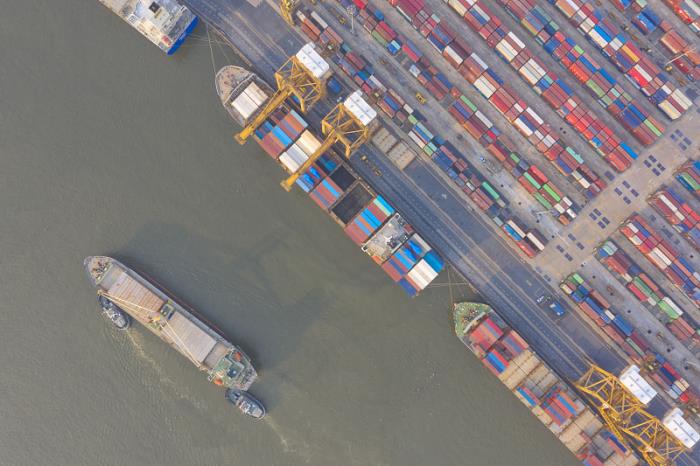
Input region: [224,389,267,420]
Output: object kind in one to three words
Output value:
boat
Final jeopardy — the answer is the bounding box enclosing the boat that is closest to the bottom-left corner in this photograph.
[95,292,131,329]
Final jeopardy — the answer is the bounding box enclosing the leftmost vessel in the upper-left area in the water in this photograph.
[99,0,205,61]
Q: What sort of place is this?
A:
port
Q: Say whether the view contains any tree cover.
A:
No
